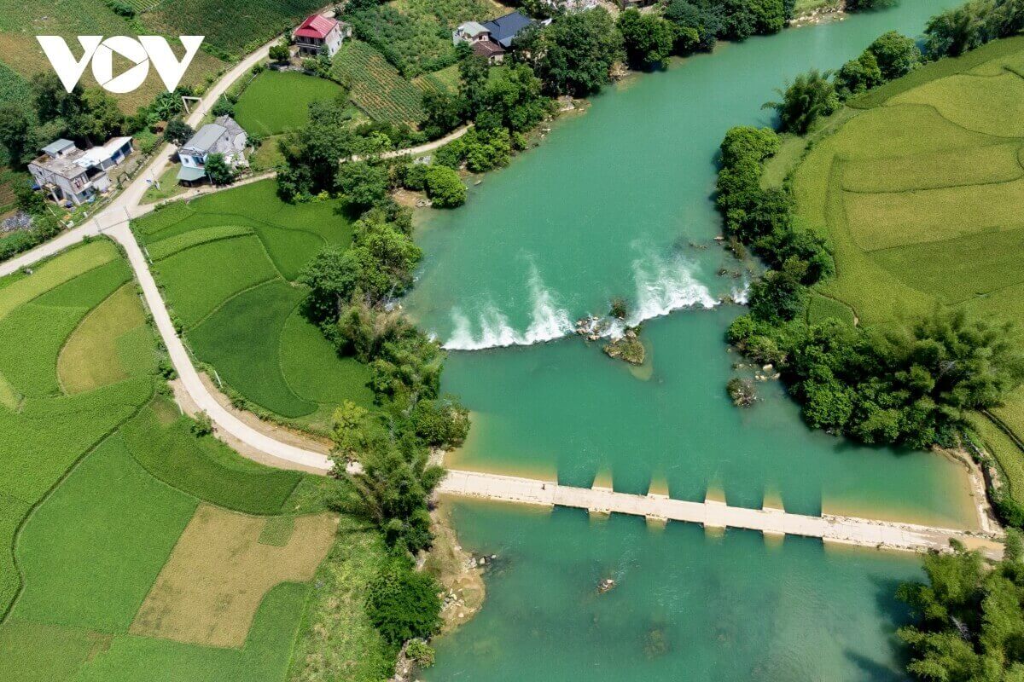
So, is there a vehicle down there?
No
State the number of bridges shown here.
one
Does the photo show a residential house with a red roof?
Yes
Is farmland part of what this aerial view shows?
Yes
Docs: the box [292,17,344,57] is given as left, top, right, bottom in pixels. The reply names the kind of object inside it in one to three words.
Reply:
house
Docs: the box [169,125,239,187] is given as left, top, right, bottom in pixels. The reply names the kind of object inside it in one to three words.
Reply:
house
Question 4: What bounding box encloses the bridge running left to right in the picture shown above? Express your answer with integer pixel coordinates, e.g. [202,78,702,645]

[424,471,987,556]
